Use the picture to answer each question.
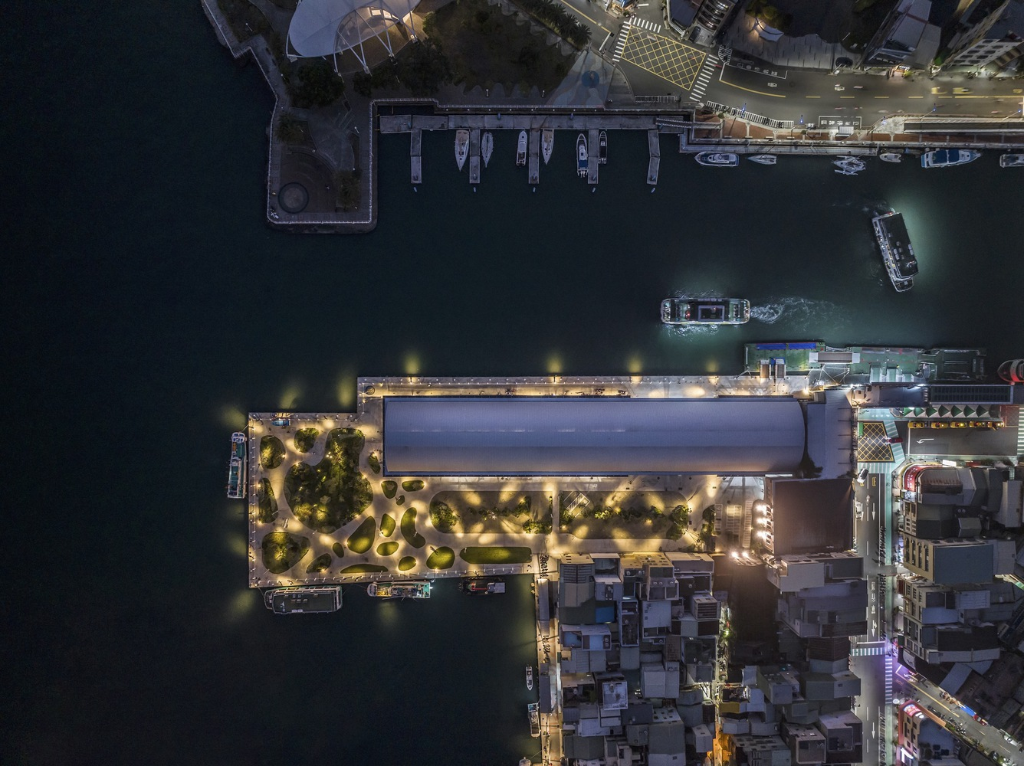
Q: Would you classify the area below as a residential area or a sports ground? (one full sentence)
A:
What you see here is a residential area.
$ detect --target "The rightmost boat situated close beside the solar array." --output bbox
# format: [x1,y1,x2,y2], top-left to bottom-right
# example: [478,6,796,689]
[992,360,1024,383]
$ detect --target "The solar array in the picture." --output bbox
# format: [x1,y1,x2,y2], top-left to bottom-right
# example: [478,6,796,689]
[932,387,1010,403]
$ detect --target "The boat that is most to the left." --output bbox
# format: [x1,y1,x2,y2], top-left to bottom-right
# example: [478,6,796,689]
[226,432,252,500]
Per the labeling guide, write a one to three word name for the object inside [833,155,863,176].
boat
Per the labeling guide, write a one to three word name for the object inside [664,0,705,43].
house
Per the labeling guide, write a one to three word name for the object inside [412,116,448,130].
pier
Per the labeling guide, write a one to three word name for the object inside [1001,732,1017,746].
car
